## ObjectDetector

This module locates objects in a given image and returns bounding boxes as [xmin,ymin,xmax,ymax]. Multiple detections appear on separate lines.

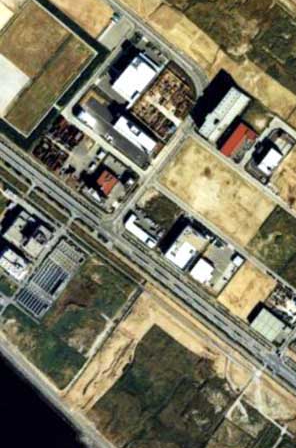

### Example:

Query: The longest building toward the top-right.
[199,86,249,142]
